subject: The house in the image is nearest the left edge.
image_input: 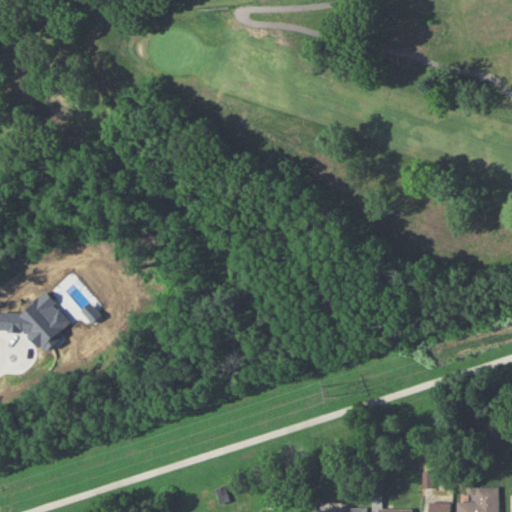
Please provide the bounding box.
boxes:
[0,293,71,352]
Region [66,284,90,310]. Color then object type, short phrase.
blue swimming pool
